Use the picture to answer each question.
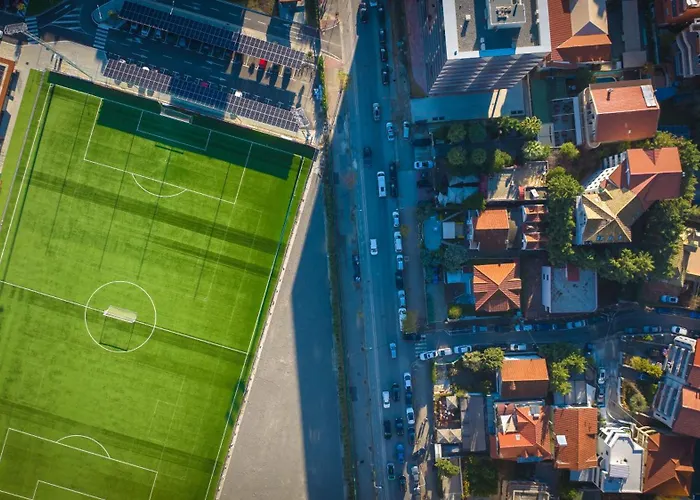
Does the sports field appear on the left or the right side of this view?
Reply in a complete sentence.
The sports field appears in the left half of the scene.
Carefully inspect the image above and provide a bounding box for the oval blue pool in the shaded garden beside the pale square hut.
[422,218,442,252]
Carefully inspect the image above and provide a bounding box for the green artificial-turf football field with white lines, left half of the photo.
[0,70,314,500]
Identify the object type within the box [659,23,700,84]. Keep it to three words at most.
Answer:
building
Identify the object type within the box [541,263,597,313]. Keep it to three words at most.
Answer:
house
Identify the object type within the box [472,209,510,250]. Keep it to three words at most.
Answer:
house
